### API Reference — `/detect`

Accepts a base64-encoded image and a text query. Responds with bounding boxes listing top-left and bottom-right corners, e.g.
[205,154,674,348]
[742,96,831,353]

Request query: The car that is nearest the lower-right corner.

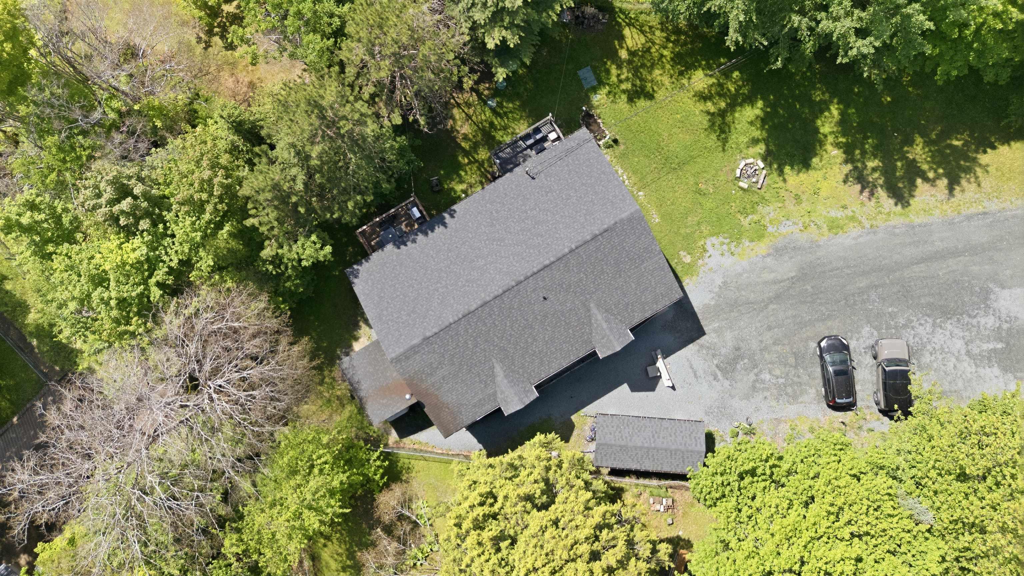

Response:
[871,338,916,412]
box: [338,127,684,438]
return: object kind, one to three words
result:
house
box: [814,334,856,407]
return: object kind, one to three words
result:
car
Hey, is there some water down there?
No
